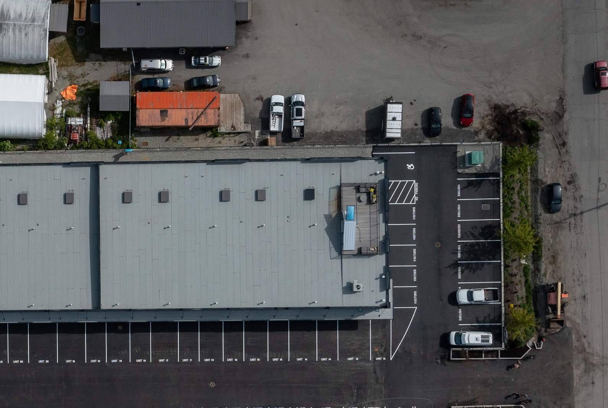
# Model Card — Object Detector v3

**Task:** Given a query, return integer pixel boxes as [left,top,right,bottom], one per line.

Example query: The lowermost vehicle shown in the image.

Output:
[447,329,496,347]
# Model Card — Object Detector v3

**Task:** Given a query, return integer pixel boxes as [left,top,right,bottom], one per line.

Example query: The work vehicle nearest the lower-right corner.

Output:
[545,287,573,327]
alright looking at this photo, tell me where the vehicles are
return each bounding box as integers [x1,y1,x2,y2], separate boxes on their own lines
[68,121,82,142]
[140,58,173,76]
[141,74,171,92]
[546,183,564,214]
[455,287,499,305]
[447,329,496,347]
[457,93,476,128]
[545,287,573,327]
[290,94,307,140]
[268,95,286,133]
[426,107,443,138]
[189,73,220,91]
[191,57,221,70]
[590,60,608,92]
